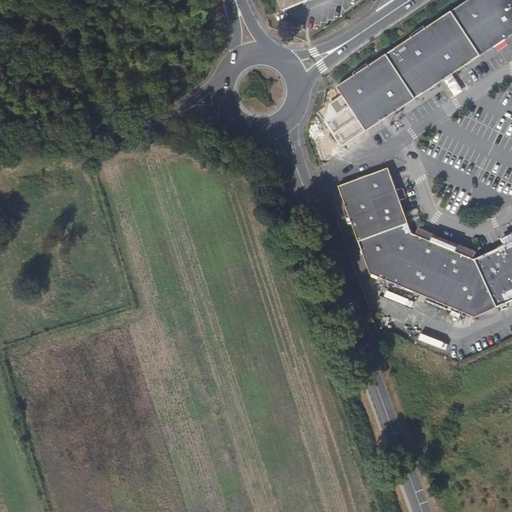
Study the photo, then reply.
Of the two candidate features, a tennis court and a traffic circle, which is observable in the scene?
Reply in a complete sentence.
Of the two, only a traffic circle appears.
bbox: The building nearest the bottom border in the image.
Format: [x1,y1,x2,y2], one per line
[338,168,512,318]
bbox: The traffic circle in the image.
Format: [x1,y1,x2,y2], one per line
[212,41,310,140]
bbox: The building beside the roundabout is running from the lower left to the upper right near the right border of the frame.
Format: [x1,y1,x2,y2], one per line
[338,0,512,128]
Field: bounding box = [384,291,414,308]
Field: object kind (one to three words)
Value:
vehicle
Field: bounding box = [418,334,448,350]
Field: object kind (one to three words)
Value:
vehicle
